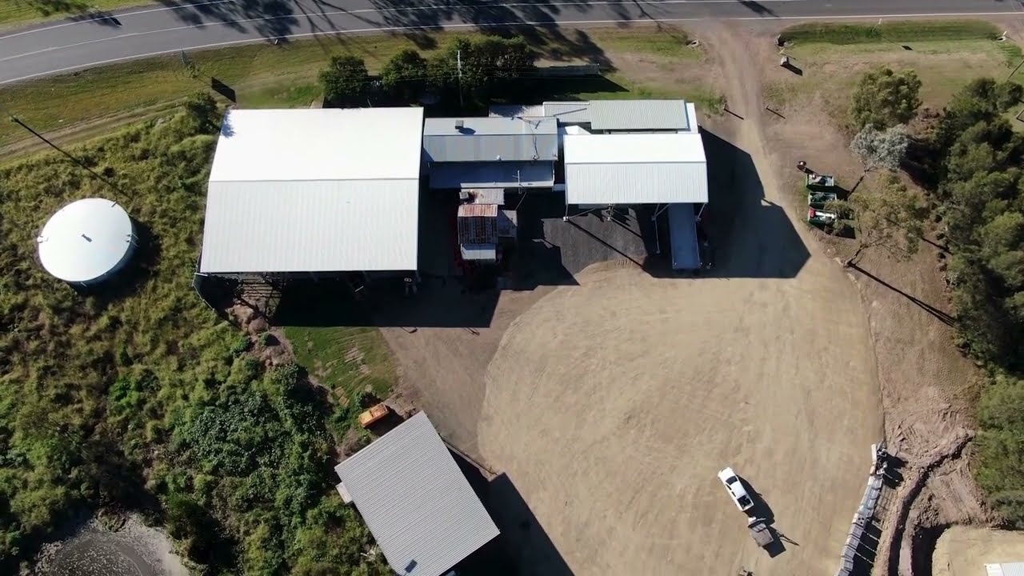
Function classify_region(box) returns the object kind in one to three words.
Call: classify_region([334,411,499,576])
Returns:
shed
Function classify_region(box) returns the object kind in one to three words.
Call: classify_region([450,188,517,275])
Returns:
building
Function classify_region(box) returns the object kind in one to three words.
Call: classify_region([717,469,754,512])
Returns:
truck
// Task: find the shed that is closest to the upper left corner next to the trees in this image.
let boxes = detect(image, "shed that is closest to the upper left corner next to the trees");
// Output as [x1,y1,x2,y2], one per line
[198,108,425,286]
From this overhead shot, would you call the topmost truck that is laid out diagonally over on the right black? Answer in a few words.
No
